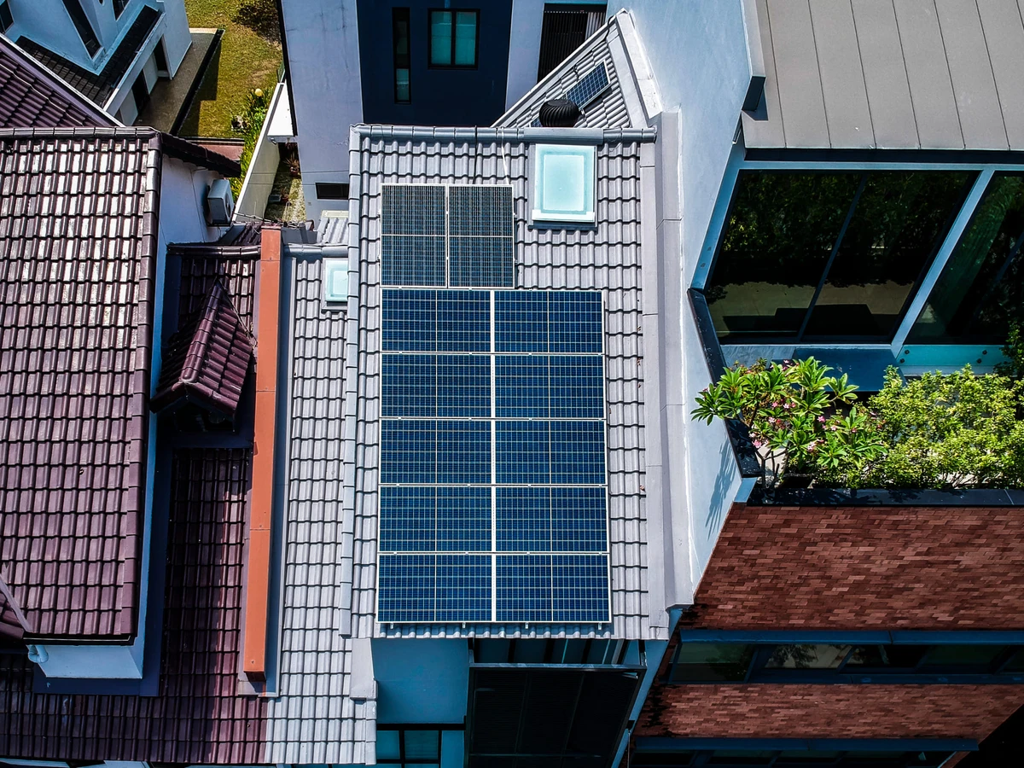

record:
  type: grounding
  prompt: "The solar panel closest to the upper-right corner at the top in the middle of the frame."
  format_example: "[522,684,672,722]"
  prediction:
[567,64,609,109]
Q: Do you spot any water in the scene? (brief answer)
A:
No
